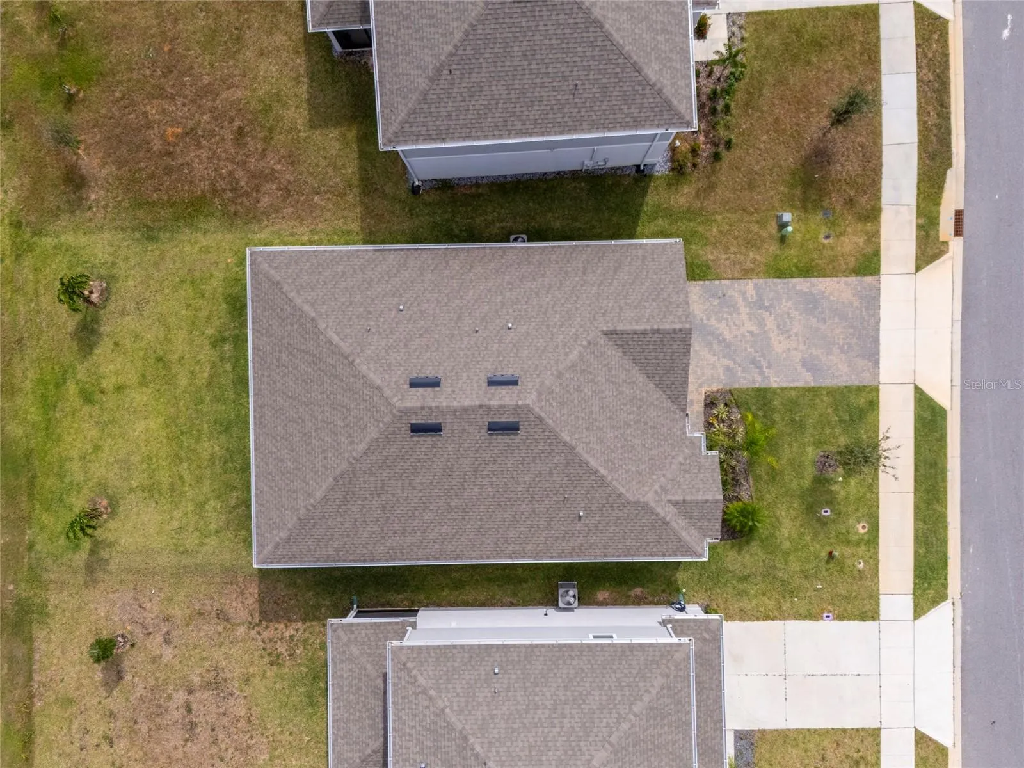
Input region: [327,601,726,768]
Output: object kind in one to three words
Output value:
house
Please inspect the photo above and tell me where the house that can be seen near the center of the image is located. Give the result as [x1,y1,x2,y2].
[247,240,723,567]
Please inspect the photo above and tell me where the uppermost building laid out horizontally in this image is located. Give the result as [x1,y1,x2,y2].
[305,0,718,182]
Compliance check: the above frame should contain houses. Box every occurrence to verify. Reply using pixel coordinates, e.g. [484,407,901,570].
[327,601,726,768]
[305,0,718,182]
[247,240,723,567]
